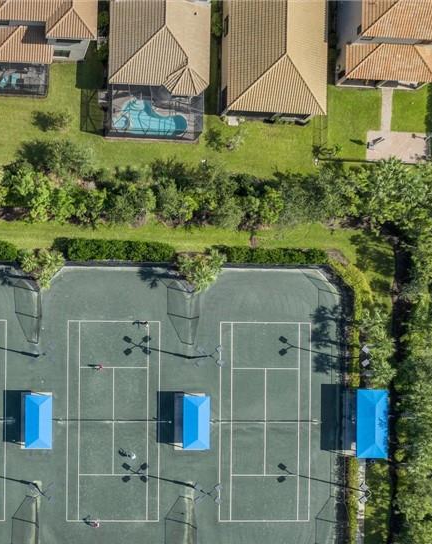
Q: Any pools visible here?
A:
Yes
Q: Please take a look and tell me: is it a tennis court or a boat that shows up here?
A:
tennis court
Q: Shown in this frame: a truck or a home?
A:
home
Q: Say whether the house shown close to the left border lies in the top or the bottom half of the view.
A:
top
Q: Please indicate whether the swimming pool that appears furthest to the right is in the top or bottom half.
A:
top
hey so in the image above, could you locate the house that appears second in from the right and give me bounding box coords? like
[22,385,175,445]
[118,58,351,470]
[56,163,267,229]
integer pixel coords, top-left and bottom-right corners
[220,0,328,120]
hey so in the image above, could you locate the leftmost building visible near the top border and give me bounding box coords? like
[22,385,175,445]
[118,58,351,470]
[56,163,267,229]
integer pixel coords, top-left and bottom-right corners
[0,0,97,71]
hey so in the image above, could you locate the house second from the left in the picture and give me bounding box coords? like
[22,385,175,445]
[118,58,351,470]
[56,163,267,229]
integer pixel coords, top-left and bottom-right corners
[108,0,209,105]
